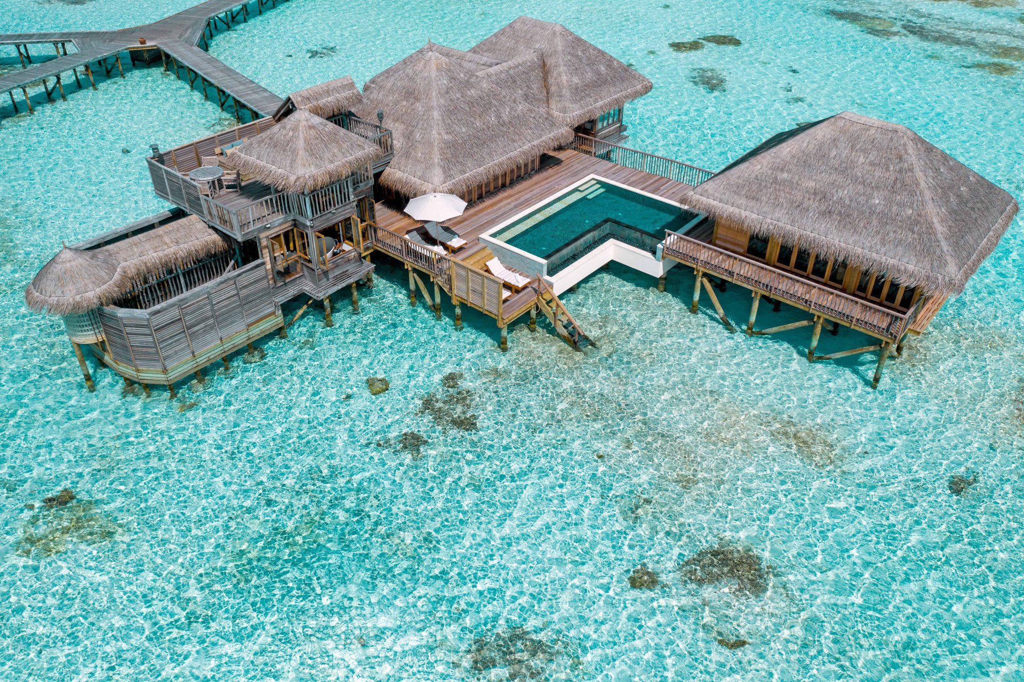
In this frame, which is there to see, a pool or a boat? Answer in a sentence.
Of the two, only a pool appears.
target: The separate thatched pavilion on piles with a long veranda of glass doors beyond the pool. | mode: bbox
[668,111,1024,384]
